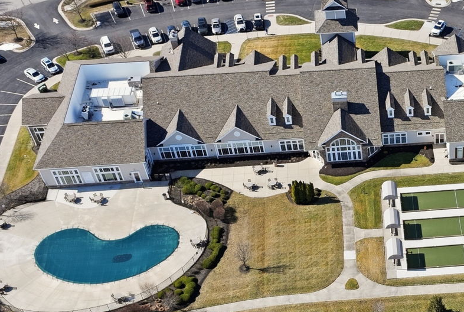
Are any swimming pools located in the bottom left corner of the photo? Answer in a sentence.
Yes, looking in the bottom left corner of the photo, one can make out a swimming pool.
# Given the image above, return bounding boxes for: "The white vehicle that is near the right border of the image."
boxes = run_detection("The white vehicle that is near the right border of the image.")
[430,19,445,38]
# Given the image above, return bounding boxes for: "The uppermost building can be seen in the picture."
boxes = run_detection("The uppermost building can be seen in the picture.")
[21,0,464,187]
